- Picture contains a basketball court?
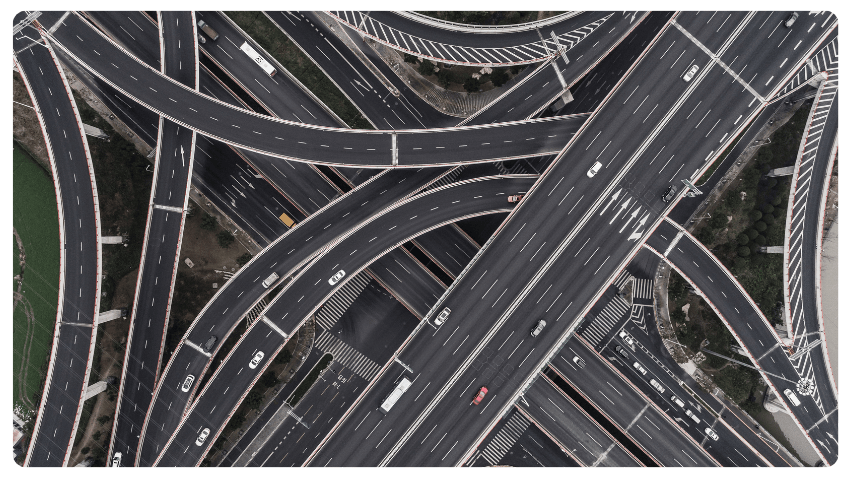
No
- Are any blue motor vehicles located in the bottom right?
No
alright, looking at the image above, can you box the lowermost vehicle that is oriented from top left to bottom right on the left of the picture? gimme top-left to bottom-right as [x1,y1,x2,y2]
[277,210,299,229]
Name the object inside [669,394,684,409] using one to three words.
car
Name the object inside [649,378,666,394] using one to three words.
car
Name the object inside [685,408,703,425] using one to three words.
vehicle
